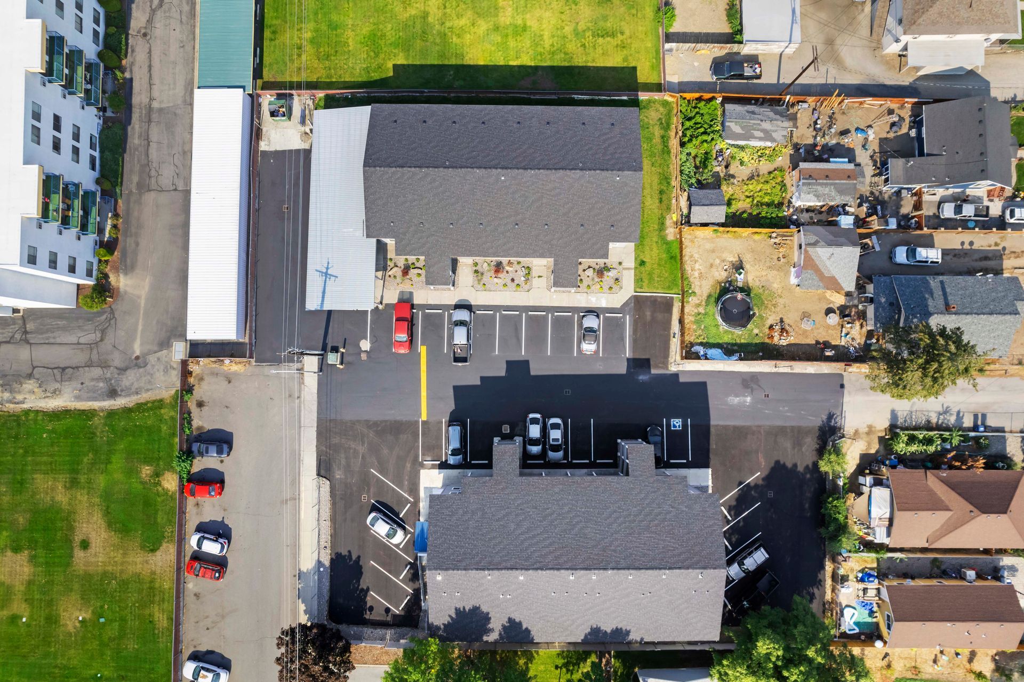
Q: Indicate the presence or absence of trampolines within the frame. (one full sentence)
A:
Yes, looking at the shot, I can spot a trampoline.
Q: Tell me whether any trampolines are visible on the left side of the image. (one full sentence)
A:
No, there's no trampoline to be seen on the left side of the image.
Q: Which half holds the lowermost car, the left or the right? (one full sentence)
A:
The lowermost car appears in the left half of the scene.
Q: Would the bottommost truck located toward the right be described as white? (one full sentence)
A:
No, the bottommost truck located toward the right is actually black.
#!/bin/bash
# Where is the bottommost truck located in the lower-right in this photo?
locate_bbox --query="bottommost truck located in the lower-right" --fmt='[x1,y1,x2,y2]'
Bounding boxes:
[728,568,780,612]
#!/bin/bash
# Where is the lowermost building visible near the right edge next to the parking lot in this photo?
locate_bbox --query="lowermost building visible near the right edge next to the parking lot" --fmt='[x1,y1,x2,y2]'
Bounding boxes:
[875,577,1024,650]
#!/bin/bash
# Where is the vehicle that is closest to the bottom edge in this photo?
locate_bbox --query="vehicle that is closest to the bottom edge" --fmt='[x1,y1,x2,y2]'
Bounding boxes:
[184,658,232,682]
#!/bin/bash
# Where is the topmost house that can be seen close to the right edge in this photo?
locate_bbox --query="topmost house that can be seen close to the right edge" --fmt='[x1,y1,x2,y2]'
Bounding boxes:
[884,0,1019,76]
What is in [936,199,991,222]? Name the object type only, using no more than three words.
truck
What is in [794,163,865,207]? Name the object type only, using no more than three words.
shed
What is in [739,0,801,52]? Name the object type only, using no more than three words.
building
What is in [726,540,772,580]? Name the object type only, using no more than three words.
car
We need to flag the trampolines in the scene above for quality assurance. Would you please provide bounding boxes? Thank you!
[715,289,760,330]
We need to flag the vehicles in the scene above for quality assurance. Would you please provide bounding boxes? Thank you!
[444,421,465,465]
[728,568,780,612]
[186,557,228,582]
[366,510,406,544]
[890,244,943,266]
[192,439,233,460]
[524,412,545,455]
[450,309,472,367]
[726,540,772,580]
[545,417,566,463]
[184,658,232,682]
[391,301,413,353]
[645,424,665,468]
[710,58,762,83]
[579,314,600,355]
[184,480,226,501]
[936,199,991,222]
[190,531,231,556]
